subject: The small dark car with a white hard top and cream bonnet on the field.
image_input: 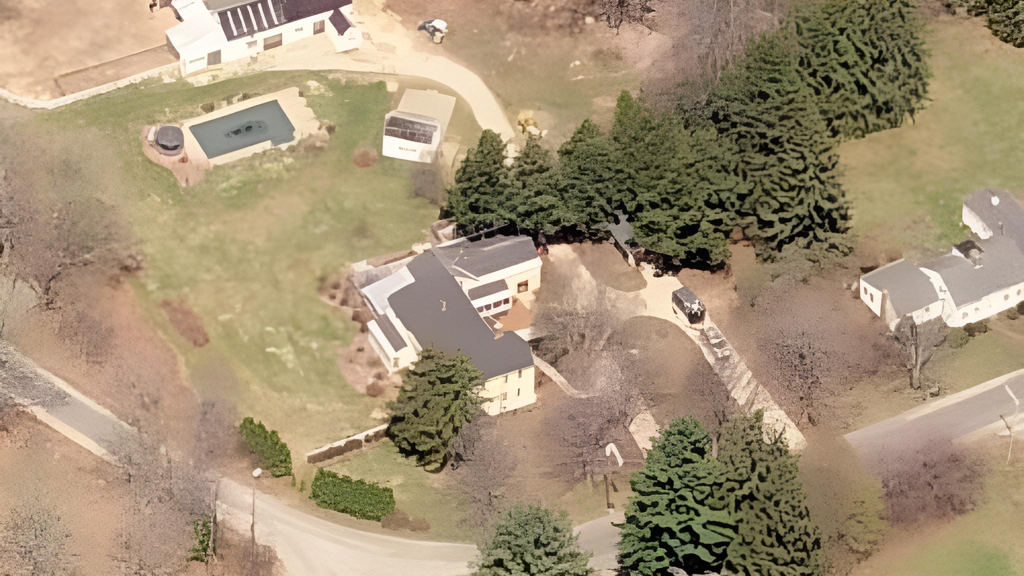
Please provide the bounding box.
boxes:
[426,14,446,44]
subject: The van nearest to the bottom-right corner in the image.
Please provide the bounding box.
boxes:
[670,282,709,330]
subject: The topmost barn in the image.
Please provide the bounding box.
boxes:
[167,0,361,78]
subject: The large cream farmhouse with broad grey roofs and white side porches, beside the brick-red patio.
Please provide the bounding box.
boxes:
[359,217,544,424]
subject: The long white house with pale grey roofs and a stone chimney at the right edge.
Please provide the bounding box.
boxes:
[859,174,1024,337]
